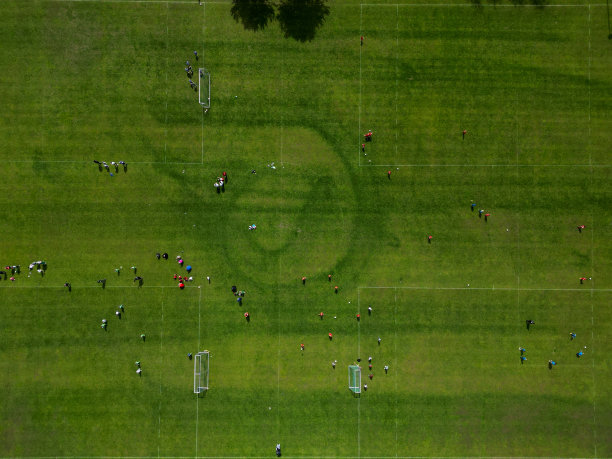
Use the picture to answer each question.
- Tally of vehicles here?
zero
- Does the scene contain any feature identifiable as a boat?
No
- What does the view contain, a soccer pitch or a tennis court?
soccer pitch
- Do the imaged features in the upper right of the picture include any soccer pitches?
Yes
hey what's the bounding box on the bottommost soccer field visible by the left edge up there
[0,286,200,458]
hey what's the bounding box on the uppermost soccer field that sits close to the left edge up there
[0,0,205,164]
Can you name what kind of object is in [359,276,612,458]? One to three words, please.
soccer field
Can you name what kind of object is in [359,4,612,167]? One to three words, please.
soccer field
